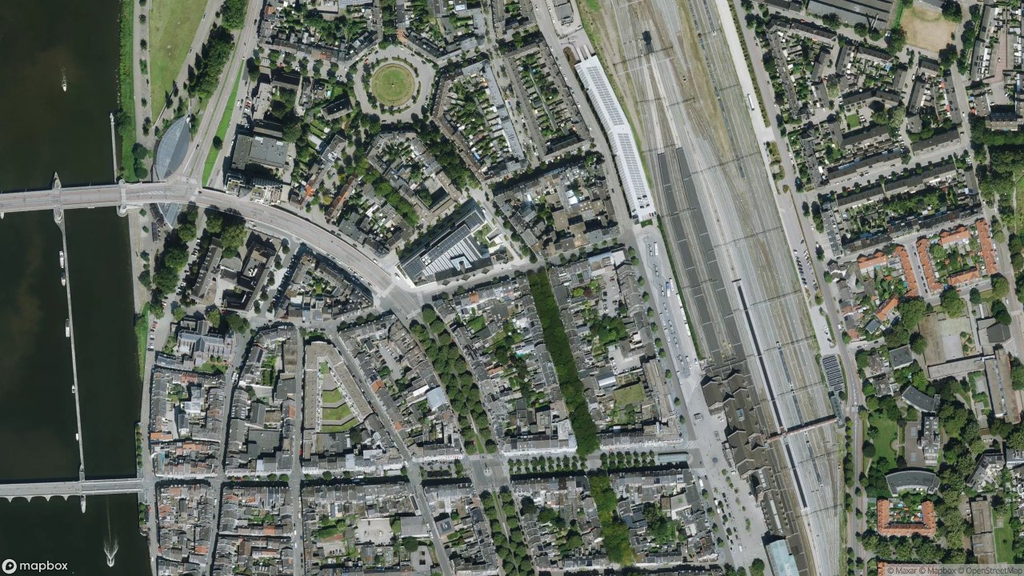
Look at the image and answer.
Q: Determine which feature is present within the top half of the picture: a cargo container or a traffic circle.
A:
traffic circle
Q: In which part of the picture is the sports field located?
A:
top right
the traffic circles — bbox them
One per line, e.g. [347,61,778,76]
[365,56,420,114]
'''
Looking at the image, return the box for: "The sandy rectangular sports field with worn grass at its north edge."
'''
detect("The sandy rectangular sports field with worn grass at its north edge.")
[902,5,958,53]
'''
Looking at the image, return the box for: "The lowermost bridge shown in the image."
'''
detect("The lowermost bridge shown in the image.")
[0,467,143,516]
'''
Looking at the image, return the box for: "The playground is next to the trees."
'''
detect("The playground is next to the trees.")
[919,312,976,367]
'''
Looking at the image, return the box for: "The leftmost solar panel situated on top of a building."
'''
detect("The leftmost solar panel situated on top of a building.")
[403,256,425,279]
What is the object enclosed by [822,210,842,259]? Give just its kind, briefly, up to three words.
house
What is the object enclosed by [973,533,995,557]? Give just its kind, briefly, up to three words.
building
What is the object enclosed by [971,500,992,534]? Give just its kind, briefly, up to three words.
building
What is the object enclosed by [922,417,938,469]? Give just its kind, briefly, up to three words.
house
